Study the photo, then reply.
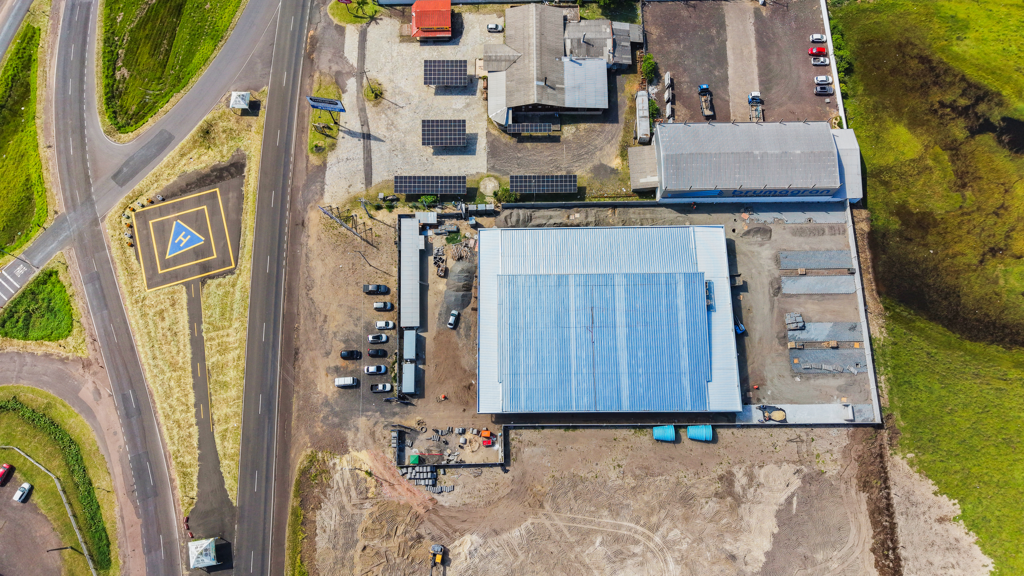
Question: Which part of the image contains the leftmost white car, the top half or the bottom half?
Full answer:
The bottom half of the photo is where the leftmost white car is.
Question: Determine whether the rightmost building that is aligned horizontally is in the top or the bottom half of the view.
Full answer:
It is in the top half that the rightmost building that is aligned horizontally appears.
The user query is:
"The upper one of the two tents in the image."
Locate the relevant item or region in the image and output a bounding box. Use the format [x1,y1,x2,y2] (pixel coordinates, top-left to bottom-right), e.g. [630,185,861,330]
[229,91,254,114]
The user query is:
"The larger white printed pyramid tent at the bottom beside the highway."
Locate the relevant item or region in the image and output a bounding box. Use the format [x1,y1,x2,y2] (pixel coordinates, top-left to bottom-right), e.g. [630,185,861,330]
[188,537,222,569]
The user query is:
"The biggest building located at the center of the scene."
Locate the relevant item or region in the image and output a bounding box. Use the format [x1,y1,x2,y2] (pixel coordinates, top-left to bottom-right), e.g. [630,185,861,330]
[478,227,740,412]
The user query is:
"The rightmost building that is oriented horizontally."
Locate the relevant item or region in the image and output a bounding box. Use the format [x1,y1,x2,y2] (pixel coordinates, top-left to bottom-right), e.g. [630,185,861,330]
[651,118,842,200]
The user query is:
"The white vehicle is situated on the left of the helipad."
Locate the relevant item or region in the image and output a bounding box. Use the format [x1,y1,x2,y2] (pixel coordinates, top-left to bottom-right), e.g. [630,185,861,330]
[12,482,33,503]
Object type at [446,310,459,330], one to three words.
vehicle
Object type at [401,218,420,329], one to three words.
shed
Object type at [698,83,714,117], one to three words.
vehicle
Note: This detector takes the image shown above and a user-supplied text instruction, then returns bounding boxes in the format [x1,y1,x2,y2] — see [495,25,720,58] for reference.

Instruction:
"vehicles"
[333,377,358,387]
[375,320,395,329]
[446,310,459,330]
[364,364,387,374]
[809,34,826,43]
[486,24,503,33]
[0,464,14,486]
[339,349,362,359]
[363,284,388,294]
[366,333,388,343]
[373,301,393,311]
[698,83,714,117]
[428,539,446,576]
[367,348,387,358]
[810,57,829,66]
[749,91,763,121]
[813,76,832,85]
[807,47,827,56]
[369,382,392,392]
[812,86,834,96]
[12,482,33,503]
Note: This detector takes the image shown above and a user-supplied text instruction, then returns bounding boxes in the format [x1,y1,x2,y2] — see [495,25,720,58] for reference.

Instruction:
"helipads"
[132,175,245,576]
